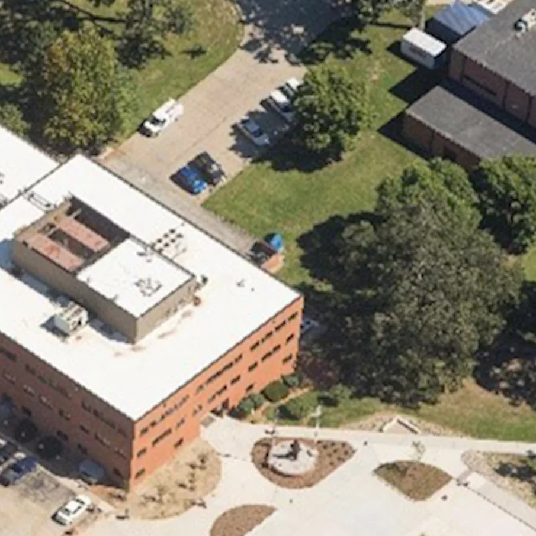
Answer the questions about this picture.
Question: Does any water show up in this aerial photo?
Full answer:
No, there is no water in the image.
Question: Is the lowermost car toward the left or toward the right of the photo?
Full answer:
The lowermost car appears in the left half of the scene.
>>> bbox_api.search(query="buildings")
[0,125,302,492]
[402,0,536,172]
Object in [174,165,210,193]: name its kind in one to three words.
car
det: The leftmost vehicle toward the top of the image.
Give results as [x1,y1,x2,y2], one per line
[141,100,185,135]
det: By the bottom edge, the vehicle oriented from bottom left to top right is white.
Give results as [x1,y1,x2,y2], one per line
[54,495,93,527]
